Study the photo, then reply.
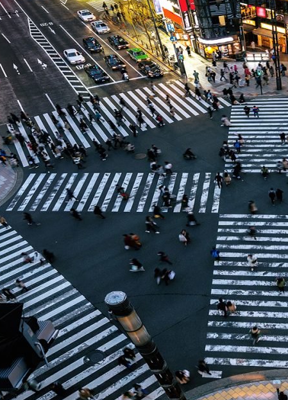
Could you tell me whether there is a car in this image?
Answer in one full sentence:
Yes, you can see a car in this photo.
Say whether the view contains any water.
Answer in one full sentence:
No, there's no water in this view.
